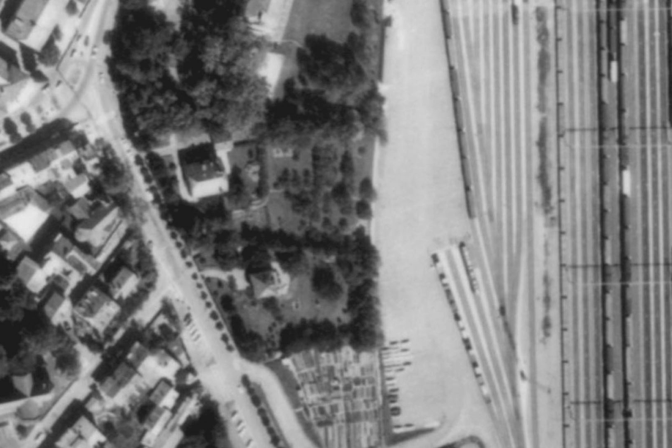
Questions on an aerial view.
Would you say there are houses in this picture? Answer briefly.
Yes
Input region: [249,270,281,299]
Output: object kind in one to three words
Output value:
house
